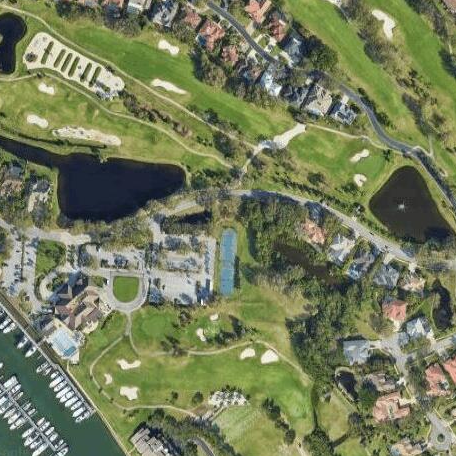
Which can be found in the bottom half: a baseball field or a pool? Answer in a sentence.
Looking in the bottom half, you will find a pool.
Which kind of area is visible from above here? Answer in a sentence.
This looks like a golf course.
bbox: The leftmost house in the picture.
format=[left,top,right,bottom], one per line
[0,155,22,203]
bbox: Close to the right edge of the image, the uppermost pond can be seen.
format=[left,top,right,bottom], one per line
[369,166,454,243]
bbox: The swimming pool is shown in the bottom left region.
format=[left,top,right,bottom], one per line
[47,326,83,360]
